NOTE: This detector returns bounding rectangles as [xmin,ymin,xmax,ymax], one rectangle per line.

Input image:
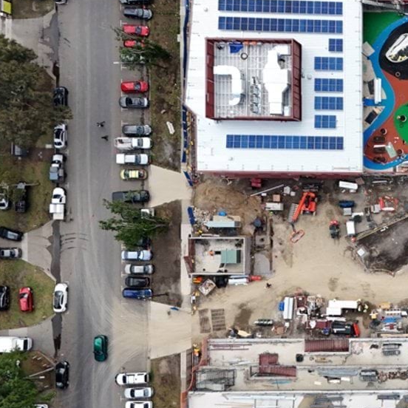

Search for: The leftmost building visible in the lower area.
[185,237,253,277]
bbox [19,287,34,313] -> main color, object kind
red car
